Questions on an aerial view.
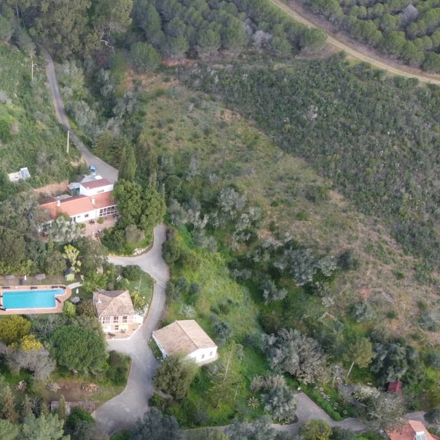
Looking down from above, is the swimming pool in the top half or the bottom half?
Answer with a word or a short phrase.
bottom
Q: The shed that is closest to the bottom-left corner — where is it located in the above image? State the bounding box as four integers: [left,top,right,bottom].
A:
[51,399,95,420]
